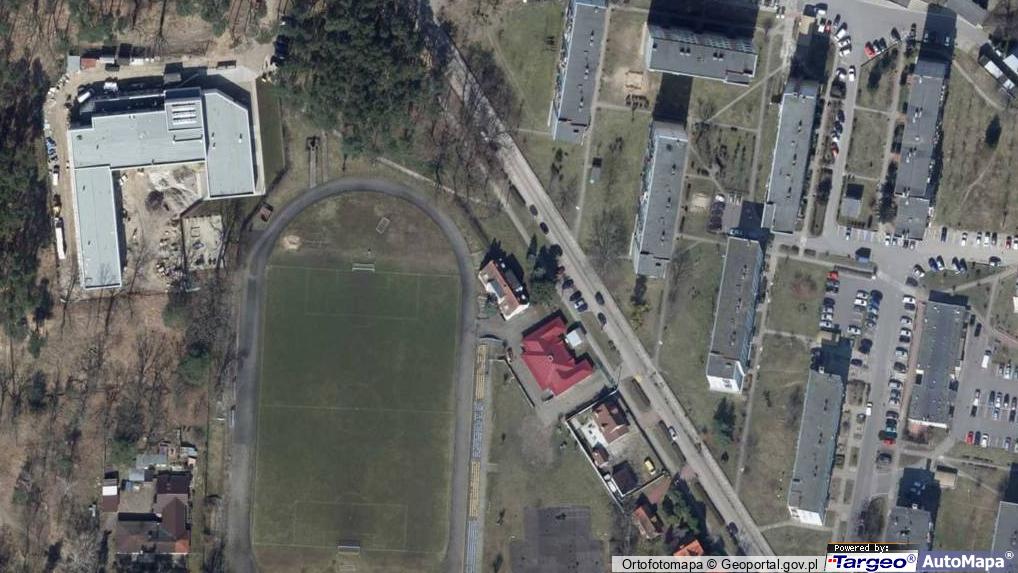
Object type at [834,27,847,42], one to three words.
vehicle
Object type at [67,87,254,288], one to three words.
building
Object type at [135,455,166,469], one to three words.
shed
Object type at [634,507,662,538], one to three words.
house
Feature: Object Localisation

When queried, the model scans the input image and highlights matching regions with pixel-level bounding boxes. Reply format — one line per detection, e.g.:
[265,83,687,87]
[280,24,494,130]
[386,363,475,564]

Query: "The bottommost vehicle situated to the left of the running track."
[54,220,68,262]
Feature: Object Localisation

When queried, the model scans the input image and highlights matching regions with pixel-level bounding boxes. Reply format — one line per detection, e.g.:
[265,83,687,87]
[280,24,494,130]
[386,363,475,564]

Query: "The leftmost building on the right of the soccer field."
[479,263,530,318]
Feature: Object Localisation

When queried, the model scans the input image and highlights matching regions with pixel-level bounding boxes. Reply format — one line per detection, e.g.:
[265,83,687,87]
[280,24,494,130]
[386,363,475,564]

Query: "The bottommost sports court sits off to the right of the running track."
[509,506,605,573]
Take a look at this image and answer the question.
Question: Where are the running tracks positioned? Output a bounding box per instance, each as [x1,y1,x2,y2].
[224,177,477,573]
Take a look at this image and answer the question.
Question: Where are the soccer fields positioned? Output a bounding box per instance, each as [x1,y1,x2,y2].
[253,266,459,553]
